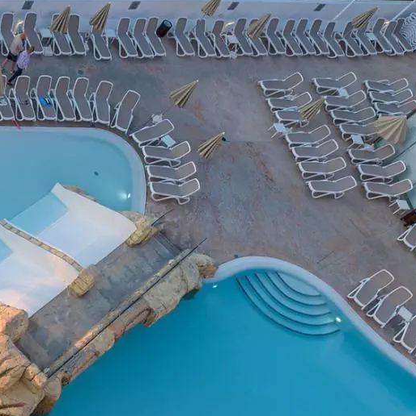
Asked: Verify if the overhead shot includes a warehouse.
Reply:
No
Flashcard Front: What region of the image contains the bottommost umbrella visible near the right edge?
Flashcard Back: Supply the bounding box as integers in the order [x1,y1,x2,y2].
[359,109,410,149]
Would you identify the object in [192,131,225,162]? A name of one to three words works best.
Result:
umbrella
